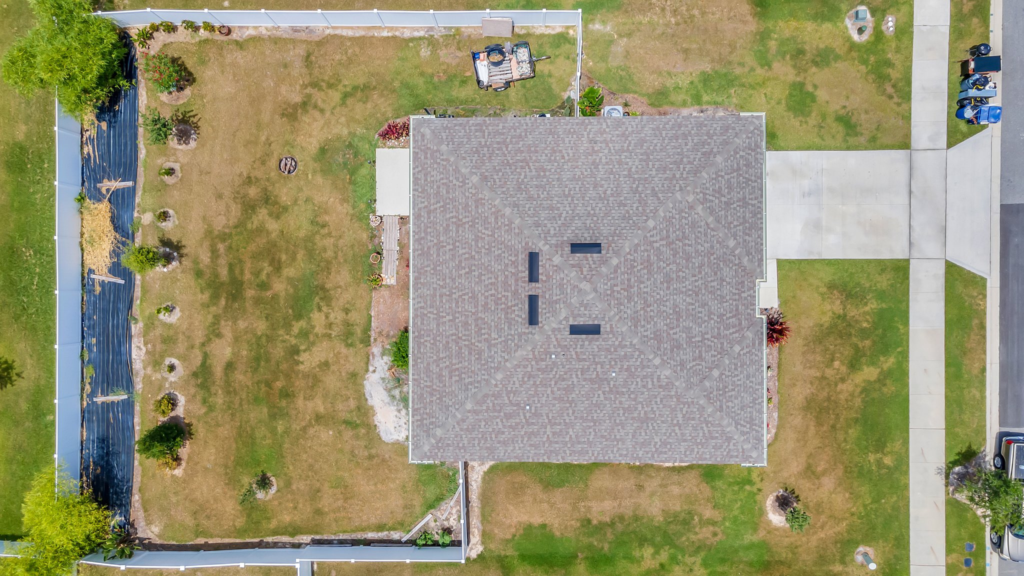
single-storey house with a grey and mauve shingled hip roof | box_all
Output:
[409,113,767,466]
